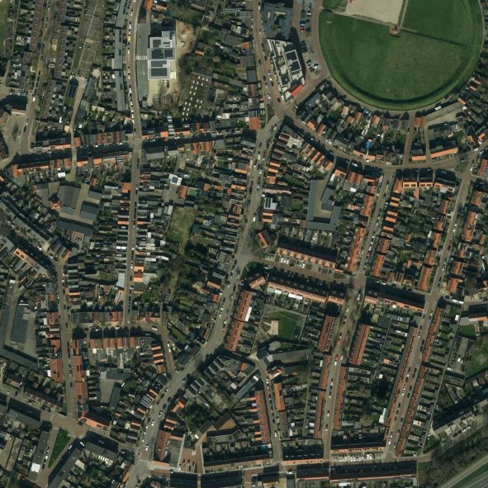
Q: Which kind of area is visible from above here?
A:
residential area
